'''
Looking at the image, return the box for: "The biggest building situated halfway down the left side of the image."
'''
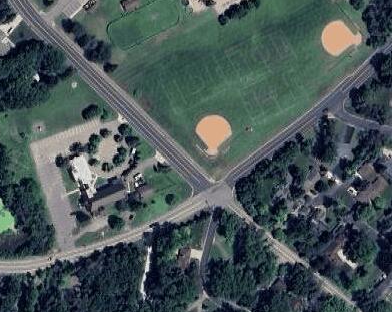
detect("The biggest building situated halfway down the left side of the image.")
[69,156,130,221]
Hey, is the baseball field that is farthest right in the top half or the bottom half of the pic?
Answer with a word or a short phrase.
top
